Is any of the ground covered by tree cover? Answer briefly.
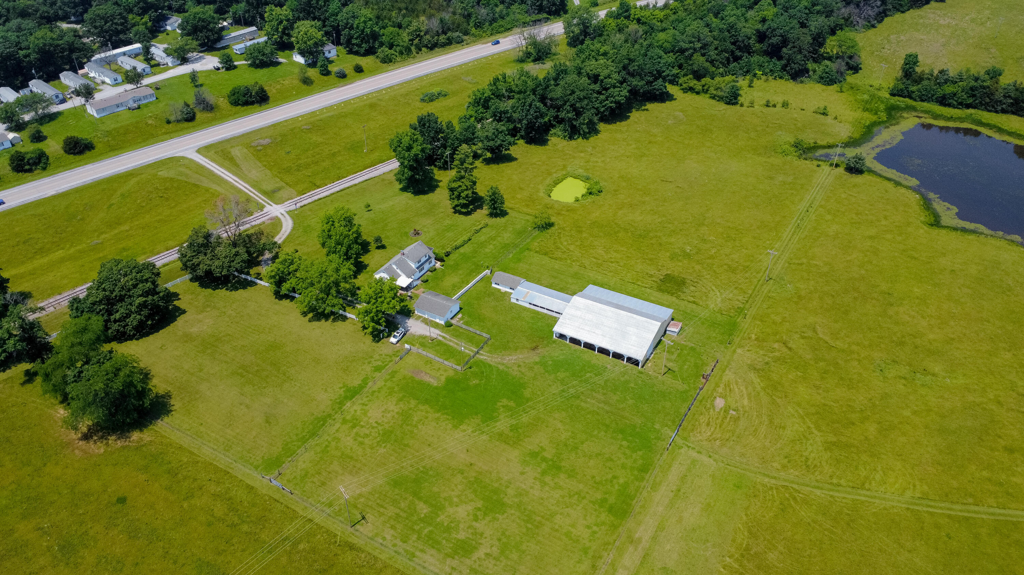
Yes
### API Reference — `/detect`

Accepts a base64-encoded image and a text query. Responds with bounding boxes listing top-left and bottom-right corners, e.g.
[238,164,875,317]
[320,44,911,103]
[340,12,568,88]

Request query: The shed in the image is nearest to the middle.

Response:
[490,269,525,293]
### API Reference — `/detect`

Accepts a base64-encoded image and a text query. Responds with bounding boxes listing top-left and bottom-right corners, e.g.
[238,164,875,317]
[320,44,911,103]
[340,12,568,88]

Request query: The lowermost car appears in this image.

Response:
[388,327,406,343]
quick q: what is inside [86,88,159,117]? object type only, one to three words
house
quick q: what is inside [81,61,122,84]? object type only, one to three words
house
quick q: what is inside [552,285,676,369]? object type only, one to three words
barn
